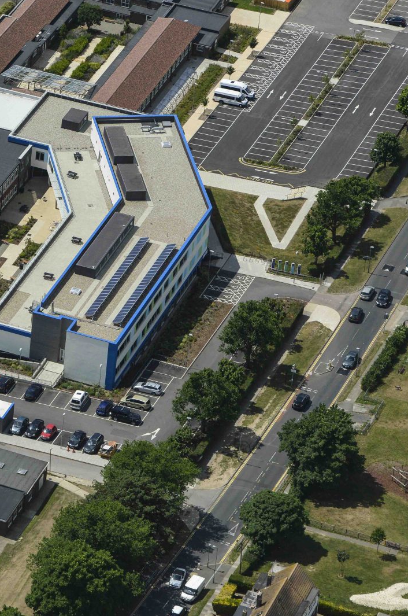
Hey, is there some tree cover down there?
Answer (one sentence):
Yes, the picture does contain tree cover.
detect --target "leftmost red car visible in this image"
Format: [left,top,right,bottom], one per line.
[40,420,59,438]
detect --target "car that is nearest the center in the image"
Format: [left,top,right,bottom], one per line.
[134,380,163,394]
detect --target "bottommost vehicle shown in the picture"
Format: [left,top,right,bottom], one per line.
[170,601,187,616]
